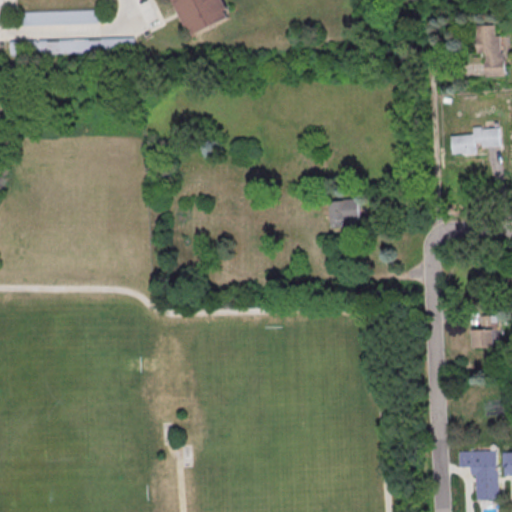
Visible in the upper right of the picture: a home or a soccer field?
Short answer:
home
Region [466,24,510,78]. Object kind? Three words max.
house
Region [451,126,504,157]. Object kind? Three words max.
house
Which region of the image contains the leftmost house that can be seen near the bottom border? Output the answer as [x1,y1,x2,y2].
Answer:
[459,451,499,500]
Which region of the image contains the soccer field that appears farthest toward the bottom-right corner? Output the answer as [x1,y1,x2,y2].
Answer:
[186,320,384,512]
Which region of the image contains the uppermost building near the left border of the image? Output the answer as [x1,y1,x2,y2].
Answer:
[16,10,104,26]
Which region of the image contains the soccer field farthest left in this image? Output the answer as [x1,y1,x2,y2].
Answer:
[0,306,154,512]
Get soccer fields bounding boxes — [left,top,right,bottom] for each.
[0,306,154,512]
[186,320,384,512]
